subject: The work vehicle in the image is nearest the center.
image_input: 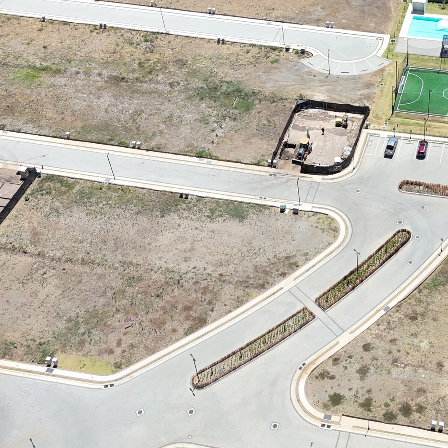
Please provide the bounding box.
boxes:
[291,139,315,168]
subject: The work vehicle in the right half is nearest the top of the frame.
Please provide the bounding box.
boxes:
[332,112,351,128]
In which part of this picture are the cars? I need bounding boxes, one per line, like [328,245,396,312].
[383,138,396,157]
[415,141,427,158]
